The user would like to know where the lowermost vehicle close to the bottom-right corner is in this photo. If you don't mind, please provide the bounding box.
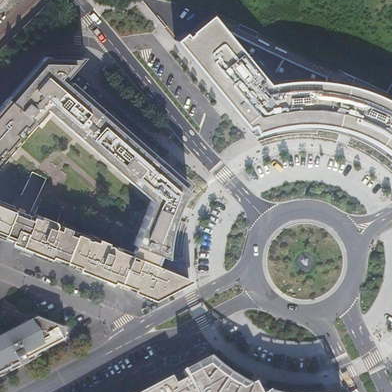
[341,370,358,392]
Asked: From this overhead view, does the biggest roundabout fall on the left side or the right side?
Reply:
right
